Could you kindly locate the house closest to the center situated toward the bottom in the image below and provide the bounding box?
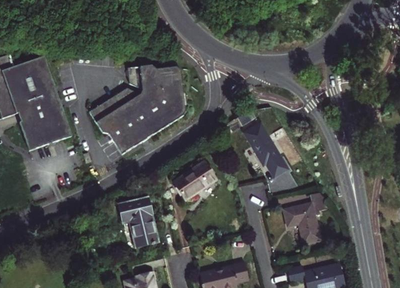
[172,160,219,202]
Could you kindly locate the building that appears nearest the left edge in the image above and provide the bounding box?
[0,55,72,152]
